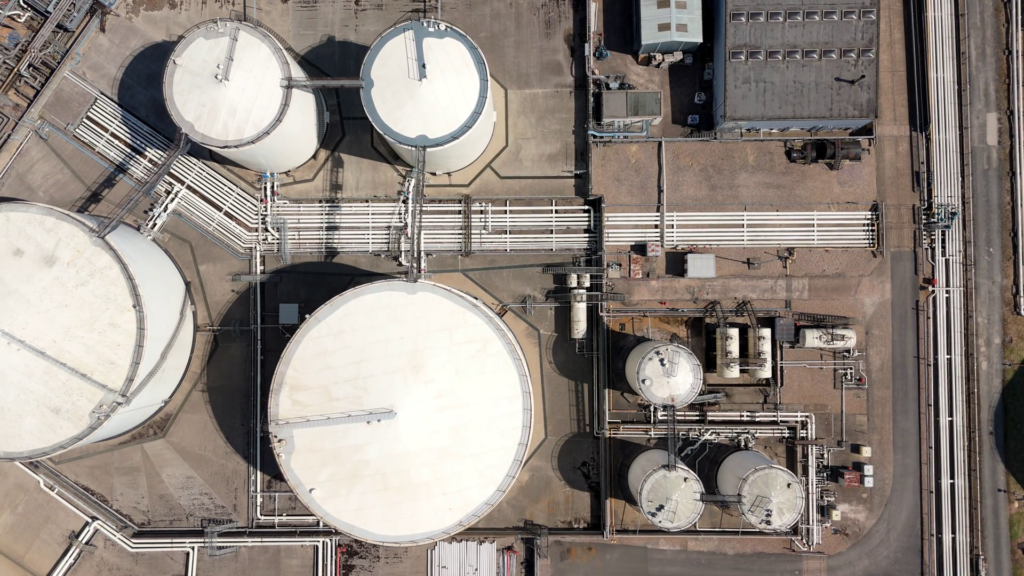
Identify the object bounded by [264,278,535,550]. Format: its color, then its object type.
white storage tank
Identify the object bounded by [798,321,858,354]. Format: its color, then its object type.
white storage tank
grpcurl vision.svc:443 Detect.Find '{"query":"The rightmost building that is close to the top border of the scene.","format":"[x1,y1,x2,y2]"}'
[712,0,879,131]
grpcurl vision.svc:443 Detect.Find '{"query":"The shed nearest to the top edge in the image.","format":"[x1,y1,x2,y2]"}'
[634,0,703,52]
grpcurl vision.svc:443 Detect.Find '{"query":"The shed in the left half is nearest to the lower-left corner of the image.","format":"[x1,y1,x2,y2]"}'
[272,304,297,325]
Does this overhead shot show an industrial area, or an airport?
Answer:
industrial area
